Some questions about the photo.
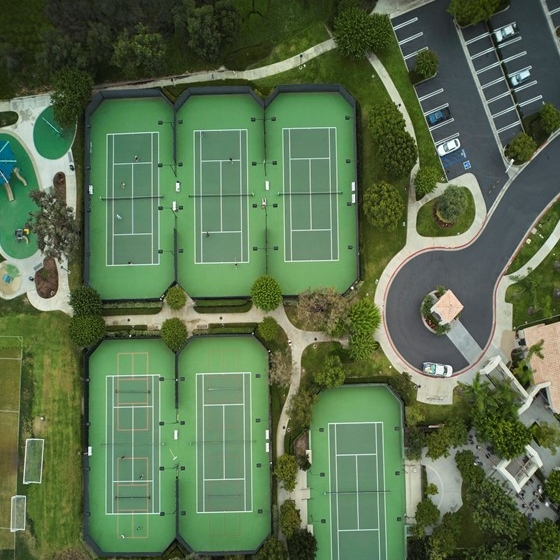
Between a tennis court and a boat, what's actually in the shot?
tennis court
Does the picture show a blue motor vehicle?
Yes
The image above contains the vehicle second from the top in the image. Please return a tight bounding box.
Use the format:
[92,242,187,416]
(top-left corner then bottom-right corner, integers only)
[506,66,532,84]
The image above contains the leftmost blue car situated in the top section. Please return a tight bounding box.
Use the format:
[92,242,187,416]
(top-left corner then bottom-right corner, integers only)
[424,106,450,125]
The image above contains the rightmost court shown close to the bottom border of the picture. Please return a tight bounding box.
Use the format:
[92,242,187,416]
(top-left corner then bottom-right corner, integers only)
[308,385,406,560]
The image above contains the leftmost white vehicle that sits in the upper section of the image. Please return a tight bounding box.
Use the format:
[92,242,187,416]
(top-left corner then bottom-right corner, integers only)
[436,137,462,156]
